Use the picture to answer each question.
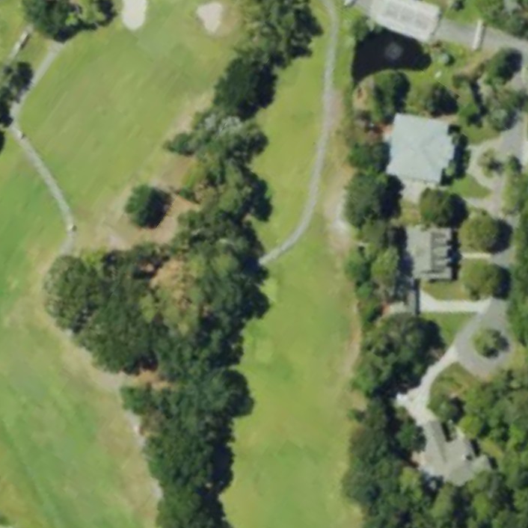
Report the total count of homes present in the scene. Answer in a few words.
3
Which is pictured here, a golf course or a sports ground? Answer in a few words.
golf course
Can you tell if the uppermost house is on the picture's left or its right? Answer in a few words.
right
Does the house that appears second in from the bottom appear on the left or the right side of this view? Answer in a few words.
right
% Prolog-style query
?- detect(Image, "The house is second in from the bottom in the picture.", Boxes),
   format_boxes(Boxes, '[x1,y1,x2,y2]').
[405,225,454,314]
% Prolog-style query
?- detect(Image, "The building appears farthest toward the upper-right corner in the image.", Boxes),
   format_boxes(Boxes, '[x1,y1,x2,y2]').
[380,112,458,181]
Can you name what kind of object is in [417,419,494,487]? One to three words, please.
house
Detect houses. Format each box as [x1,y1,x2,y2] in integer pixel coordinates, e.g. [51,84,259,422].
[417,419,494,487]
[405,225,454,314]
[380,112,458,181]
